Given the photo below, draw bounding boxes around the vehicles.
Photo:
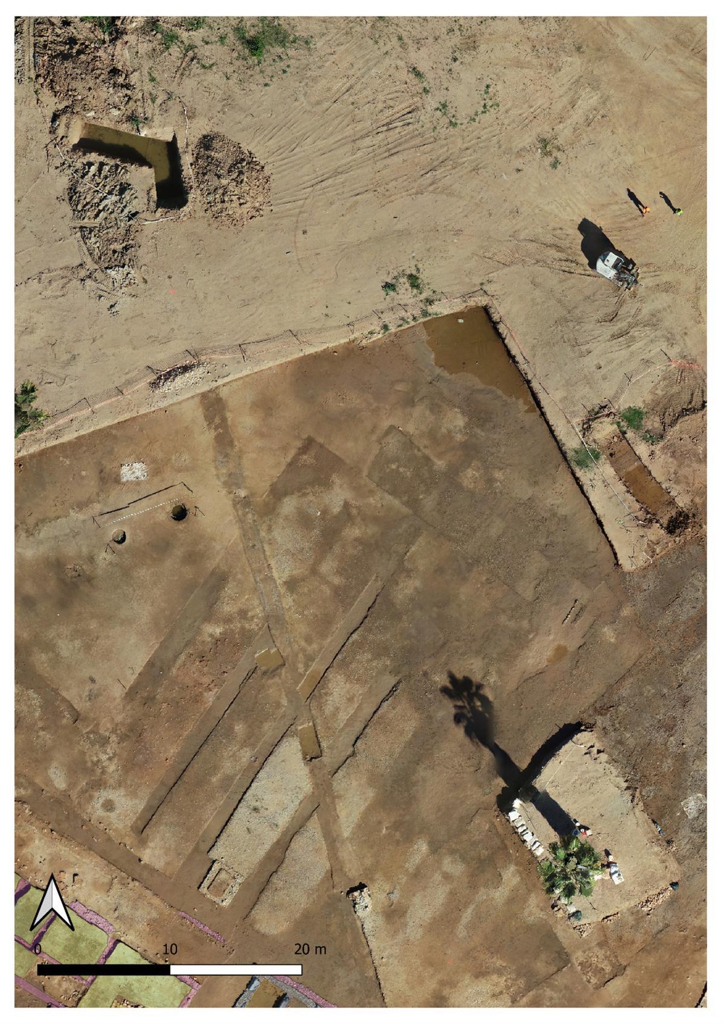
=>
[594,249,638,289]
